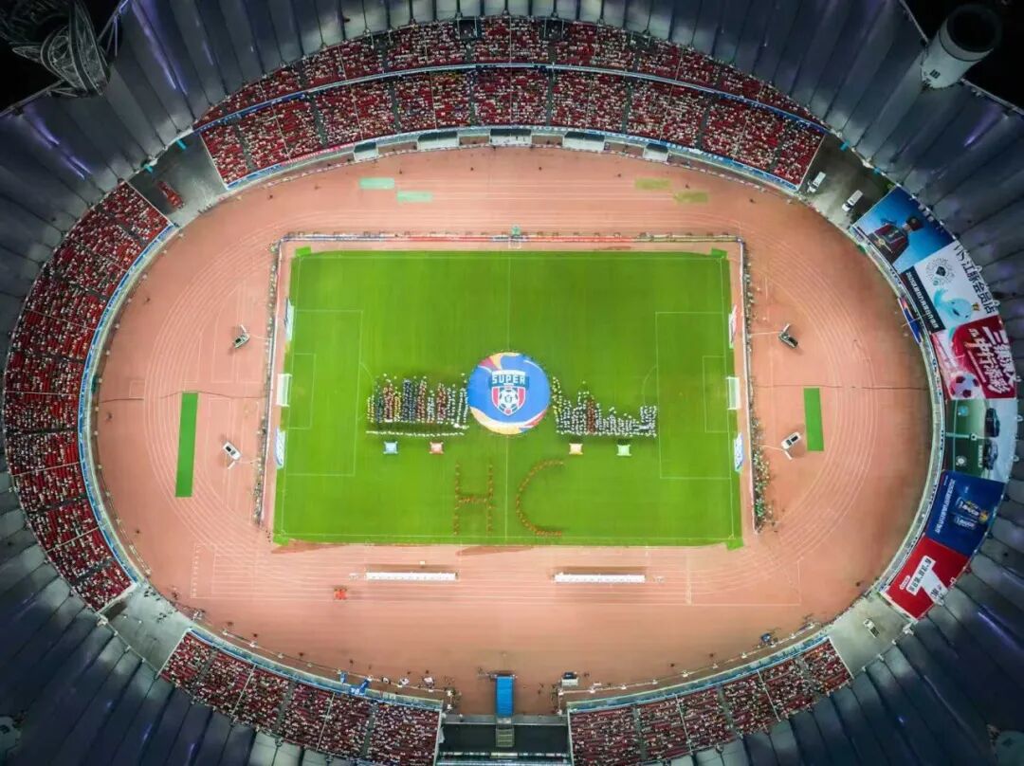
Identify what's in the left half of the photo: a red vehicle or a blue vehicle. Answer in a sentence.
You can see a red vehicle in the left half of the photo.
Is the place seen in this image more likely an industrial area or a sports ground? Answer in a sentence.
The picture captures a sports ground.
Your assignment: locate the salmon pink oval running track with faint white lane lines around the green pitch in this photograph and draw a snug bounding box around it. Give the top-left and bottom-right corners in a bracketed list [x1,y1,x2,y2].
[93,136,933,714]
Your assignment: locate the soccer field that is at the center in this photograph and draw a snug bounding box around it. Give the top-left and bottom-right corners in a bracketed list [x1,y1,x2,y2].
[273,247,743,550]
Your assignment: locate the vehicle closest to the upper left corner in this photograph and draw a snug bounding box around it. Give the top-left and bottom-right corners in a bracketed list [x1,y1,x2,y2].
[153,175,181,208]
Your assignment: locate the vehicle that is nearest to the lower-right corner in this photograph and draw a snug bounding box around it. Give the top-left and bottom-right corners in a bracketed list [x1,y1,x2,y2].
[862,617,885,640]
